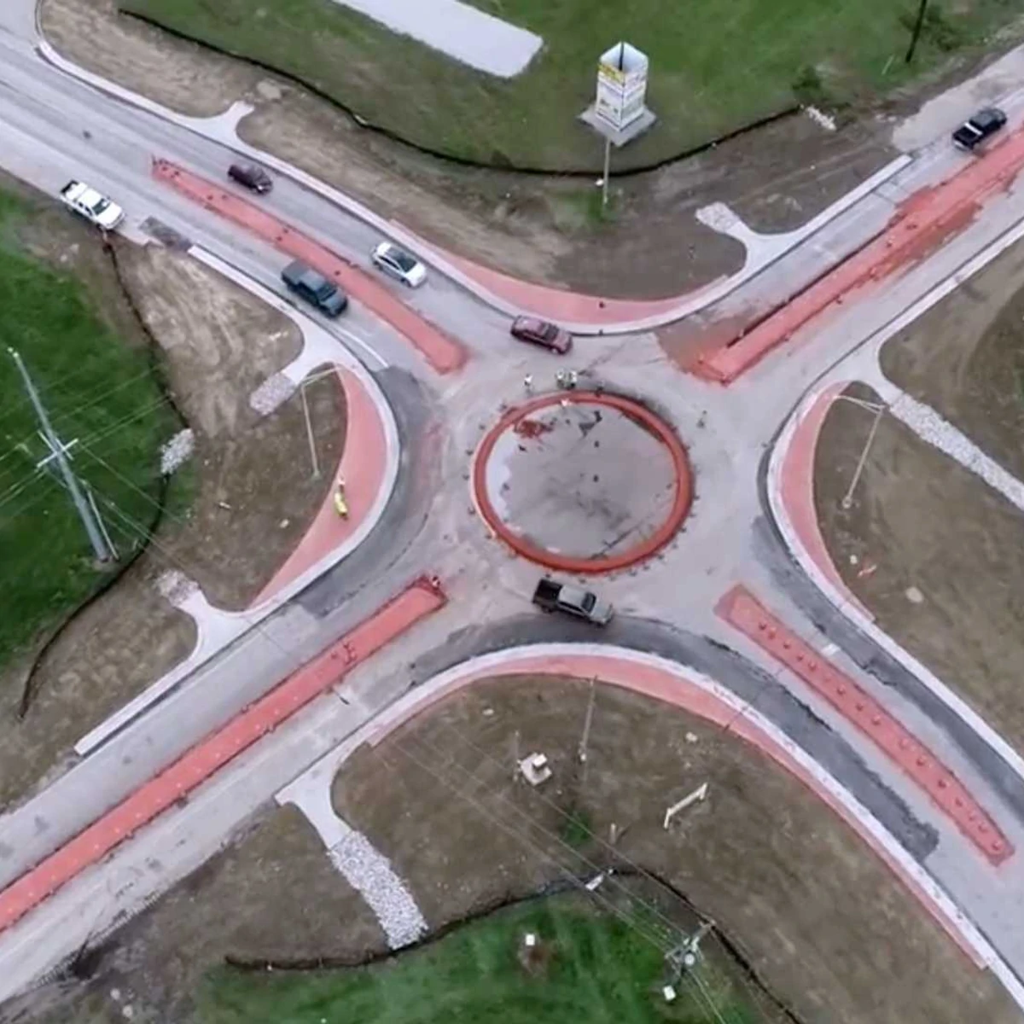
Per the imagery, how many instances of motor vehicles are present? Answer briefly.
7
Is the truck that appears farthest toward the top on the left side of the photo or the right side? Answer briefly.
right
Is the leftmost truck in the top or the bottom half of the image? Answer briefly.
top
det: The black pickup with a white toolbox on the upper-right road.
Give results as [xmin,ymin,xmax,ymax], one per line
[952,108,1013,152]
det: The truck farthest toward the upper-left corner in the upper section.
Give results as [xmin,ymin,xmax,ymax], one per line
[58,174,130,230]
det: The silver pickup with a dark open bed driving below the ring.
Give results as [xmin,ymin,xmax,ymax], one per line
[528,574,618,629]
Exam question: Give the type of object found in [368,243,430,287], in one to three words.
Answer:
car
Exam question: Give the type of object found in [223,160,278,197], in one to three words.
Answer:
car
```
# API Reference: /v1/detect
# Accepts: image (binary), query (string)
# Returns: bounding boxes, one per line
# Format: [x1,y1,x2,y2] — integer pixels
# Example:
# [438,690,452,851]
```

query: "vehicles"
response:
[58,174,130,230]
[509,316,574,358]
[952,108,1013,152]
[368,243,430,287]
[223,160,278,197]
[528,574,618,629]
[279,256,351,316]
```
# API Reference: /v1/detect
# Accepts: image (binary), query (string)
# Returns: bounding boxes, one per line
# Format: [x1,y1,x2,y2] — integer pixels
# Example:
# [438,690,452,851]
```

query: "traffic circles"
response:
[393,335,771,640]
